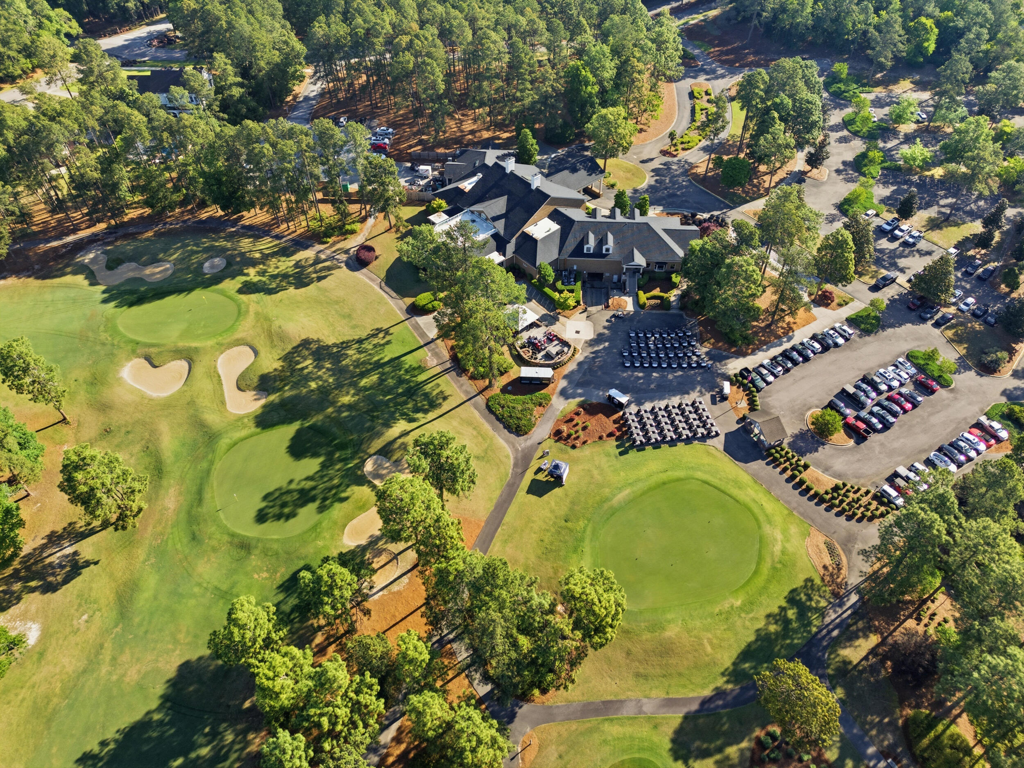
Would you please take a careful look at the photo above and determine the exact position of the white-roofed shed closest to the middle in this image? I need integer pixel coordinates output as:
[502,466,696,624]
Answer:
[520,367,554,387]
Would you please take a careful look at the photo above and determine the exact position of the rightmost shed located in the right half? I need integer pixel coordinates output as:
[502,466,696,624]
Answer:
[743,410,788,453]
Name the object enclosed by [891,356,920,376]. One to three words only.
car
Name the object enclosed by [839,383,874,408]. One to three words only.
truck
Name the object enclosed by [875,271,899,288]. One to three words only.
vehicle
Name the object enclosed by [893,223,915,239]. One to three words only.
vehicle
